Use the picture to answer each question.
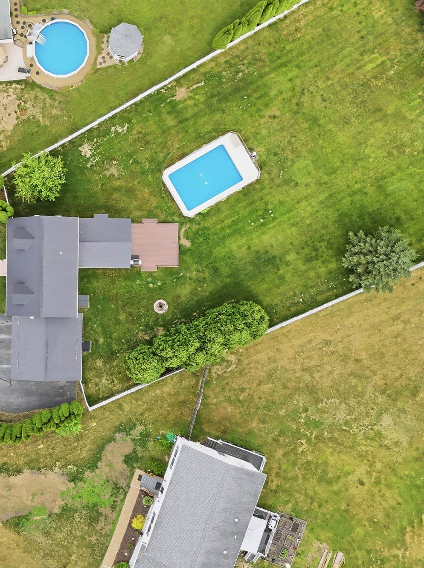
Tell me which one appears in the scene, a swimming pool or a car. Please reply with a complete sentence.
It is a swimming pool that can be seen here.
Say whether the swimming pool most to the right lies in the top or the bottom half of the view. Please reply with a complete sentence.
Seen from above, the swimming pool most to the right lies in the top half of the view.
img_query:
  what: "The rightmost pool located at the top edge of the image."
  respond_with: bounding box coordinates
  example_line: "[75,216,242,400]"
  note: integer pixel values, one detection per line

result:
[32,21,90,79]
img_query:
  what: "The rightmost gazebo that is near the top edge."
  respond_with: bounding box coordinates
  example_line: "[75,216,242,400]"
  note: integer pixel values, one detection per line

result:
[108,23,143,61]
